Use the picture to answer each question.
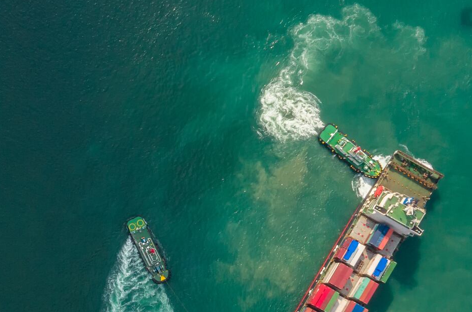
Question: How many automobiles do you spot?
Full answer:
Not a single automobile can be seen.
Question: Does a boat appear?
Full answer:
Yes, this view includes a boat.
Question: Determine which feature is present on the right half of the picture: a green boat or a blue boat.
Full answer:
Visible on the right half of the picture is a green boat.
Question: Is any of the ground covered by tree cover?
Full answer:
No, tree cover can't be seen anywhere here.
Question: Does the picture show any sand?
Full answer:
No, there is no sand in the image.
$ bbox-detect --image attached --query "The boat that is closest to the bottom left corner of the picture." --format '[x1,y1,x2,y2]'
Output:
[125,217,168,285]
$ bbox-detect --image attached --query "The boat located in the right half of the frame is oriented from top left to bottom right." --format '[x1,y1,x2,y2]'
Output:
[313,123,384,177]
